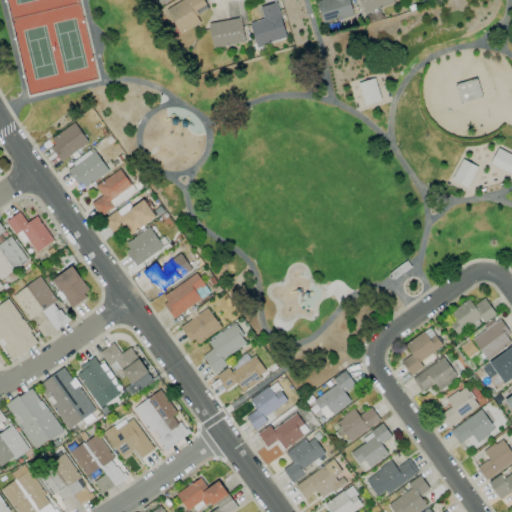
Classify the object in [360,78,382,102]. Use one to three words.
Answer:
building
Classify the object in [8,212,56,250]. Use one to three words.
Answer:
house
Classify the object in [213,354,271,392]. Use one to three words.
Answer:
house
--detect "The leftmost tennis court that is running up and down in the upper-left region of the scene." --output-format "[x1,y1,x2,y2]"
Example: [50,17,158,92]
[24,25,59,80]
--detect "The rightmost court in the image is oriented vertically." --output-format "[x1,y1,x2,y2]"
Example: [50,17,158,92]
[54,18,88,73]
